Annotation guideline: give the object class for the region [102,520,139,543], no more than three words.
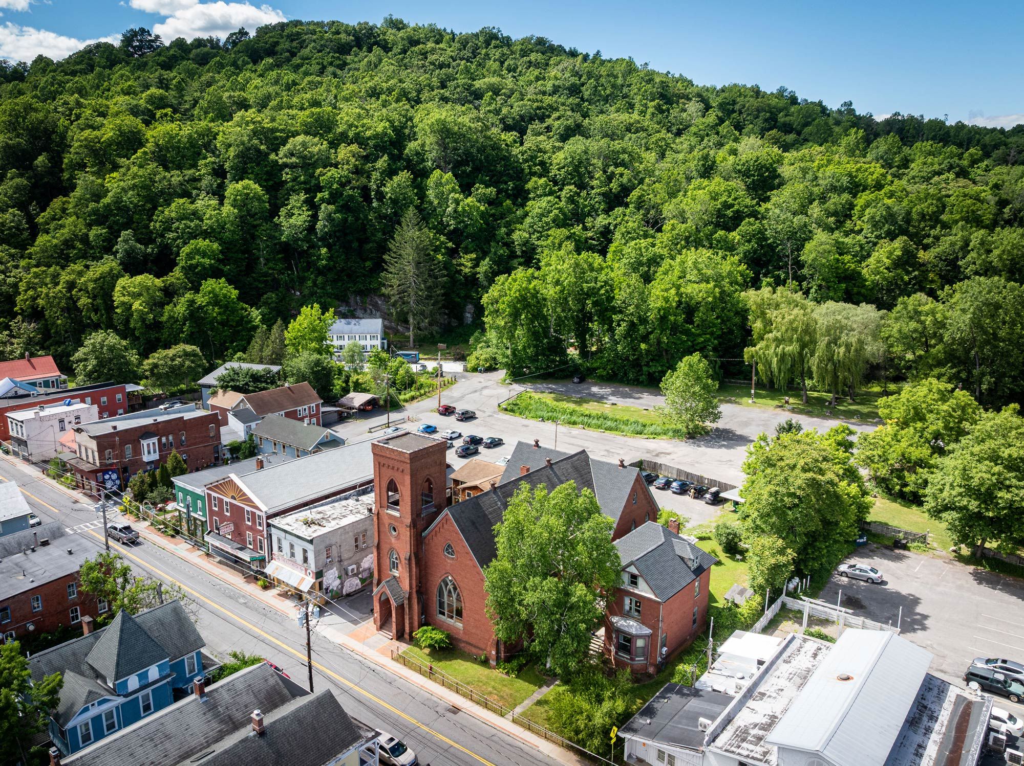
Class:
truck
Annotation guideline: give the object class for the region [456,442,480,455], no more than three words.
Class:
vehicle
